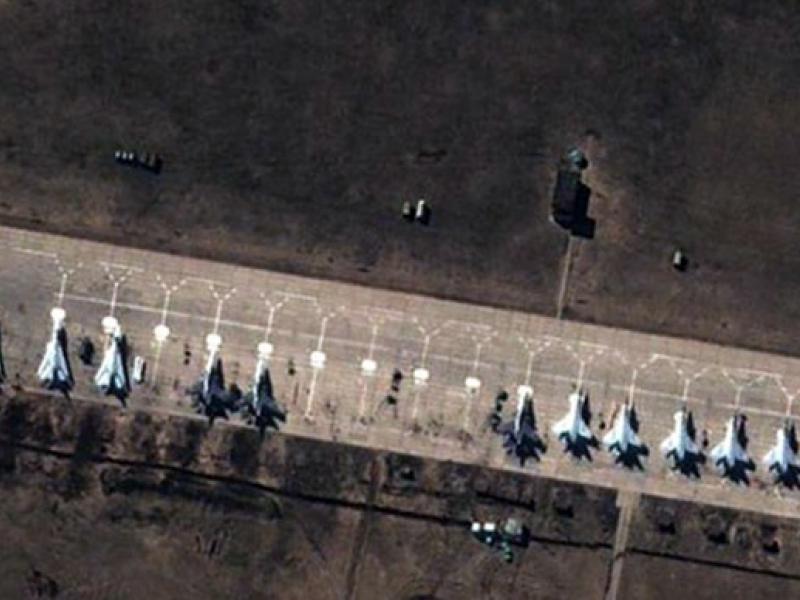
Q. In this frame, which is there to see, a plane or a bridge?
plane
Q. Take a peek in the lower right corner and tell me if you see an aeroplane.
Yes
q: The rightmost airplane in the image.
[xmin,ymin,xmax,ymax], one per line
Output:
[763,416,800,477]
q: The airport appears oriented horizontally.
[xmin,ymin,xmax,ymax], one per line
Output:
[0,228,800,516]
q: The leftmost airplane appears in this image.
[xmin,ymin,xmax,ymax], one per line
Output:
[38,320,69,384]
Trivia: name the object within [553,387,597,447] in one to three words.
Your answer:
airplane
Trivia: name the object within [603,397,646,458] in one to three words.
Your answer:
airplane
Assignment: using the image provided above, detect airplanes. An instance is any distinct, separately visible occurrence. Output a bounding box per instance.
[763,416,800,477]
[187,345,230,411]
[710,413,754,472]
[553,387,597,447]
[38,320,69,384]
[96,326,127,392]
[495,388,539,452]
[659,405,703,463]
[239,352,283,420]
[603,397,646,458]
